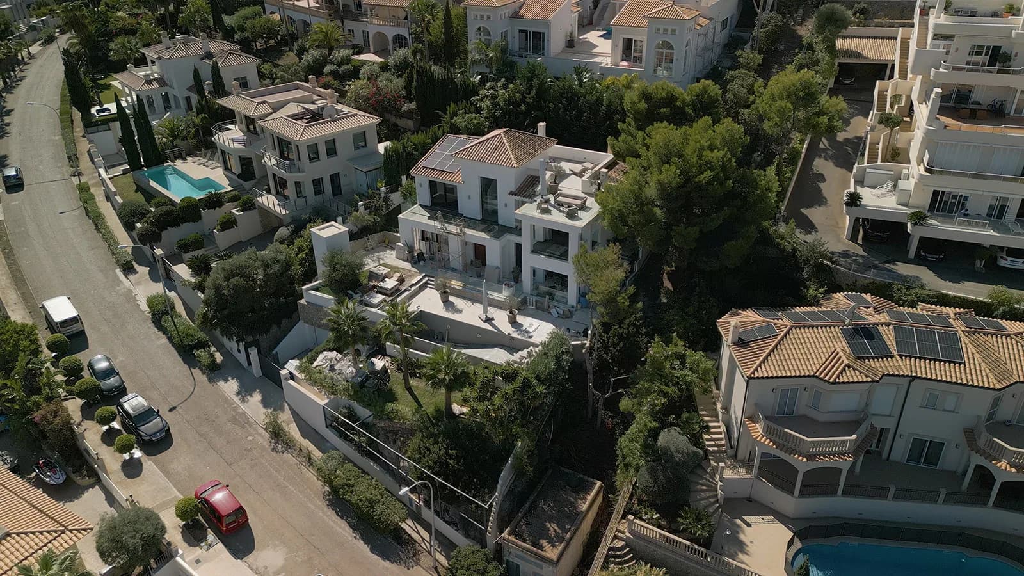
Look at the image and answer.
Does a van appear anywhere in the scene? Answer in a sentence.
Yes, a van is visible in the scene.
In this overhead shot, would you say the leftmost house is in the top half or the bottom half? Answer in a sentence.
Seen from above, the leftmost house lies in the bottom half of the view.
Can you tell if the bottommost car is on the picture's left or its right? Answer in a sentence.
You can find the bottommost car on the left side of the picture.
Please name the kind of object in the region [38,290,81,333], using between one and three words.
van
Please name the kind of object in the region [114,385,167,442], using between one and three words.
car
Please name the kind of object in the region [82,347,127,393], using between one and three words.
car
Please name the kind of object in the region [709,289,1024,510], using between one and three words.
house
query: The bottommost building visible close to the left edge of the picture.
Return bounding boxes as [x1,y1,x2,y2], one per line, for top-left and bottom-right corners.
[0,465,96,576]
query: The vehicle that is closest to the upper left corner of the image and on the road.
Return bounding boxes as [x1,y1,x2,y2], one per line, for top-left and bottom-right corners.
[0,162,23,183]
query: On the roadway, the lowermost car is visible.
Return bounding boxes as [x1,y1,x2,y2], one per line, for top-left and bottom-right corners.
[194,479,249,534]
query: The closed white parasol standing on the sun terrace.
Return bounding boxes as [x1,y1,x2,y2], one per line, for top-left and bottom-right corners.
[477,279,496,324]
